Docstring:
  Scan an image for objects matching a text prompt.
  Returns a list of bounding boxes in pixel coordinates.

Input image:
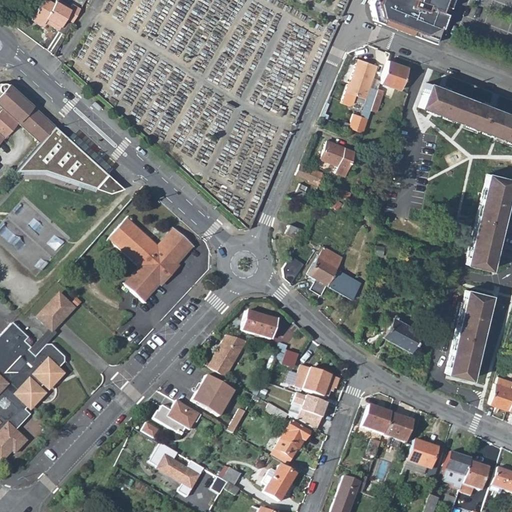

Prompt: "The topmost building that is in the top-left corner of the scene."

[34,0,85,33]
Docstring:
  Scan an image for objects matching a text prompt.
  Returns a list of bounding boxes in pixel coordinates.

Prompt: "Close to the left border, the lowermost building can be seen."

[0,323,67,460]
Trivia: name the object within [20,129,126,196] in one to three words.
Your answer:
building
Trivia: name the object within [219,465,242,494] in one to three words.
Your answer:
shed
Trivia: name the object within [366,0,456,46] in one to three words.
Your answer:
building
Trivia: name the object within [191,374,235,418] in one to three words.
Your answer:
house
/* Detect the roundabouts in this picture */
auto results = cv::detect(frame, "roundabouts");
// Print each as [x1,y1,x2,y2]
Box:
[203,222,288,312]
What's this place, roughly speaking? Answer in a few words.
residential area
